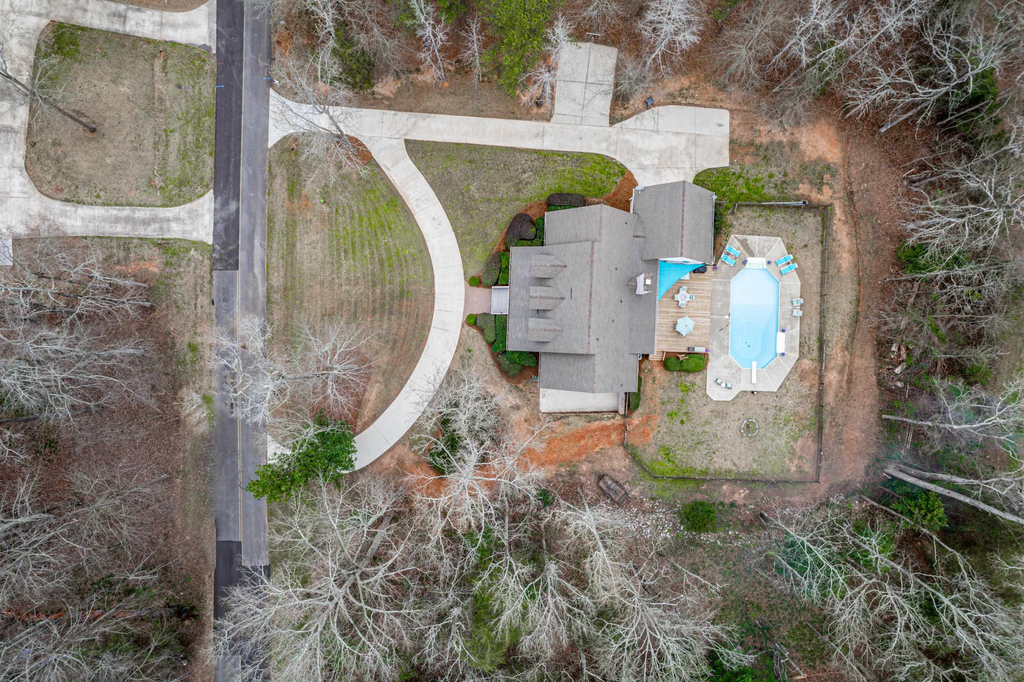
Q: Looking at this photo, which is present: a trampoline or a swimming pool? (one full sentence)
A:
It is a swimming pool that can be seen here.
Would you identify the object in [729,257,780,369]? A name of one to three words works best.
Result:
swimming pool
